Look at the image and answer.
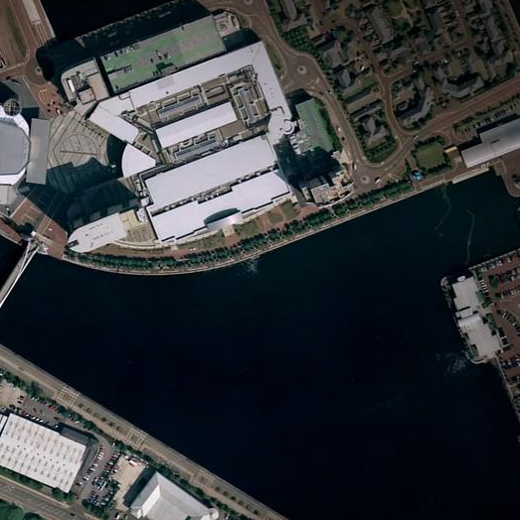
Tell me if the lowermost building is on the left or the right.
left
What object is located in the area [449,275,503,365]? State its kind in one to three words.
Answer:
building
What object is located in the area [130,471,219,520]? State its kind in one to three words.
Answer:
building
